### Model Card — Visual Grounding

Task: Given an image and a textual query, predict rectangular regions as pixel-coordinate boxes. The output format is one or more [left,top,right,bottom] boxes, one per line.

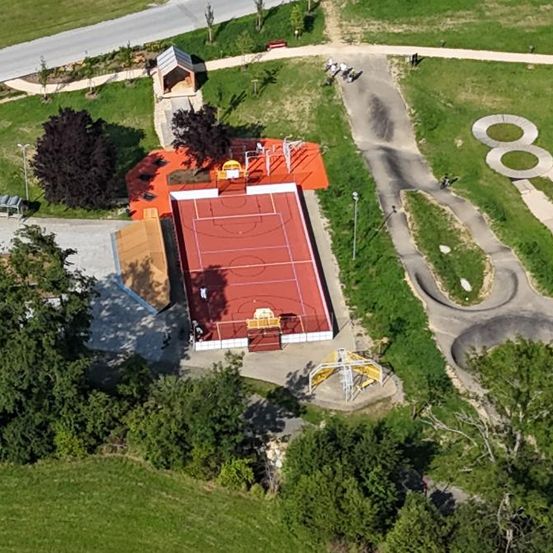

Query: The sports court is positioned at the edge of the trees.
[172,167,334,355]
